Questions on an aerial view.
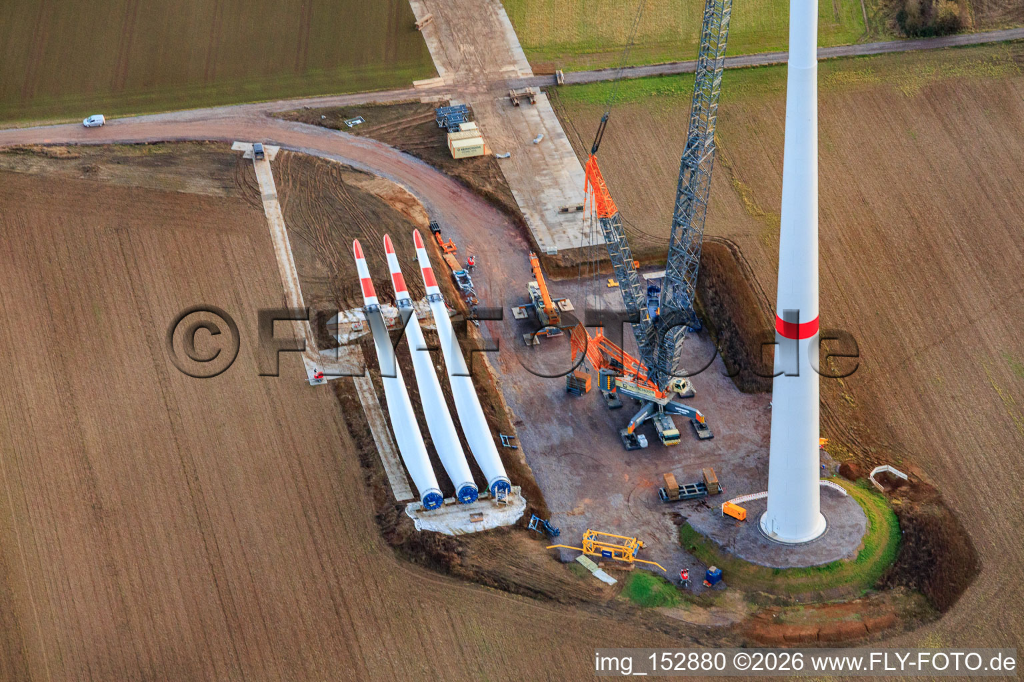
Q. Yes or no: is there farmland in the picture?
Yes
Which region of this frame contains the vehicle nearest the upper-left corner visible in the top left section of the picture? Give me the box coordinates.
[82,114,106,128]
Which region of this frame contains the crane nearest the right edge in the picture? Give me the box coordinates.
[568,0,733,446]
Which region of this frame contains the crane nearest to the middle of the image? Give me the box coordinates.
[520,251,575,341]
